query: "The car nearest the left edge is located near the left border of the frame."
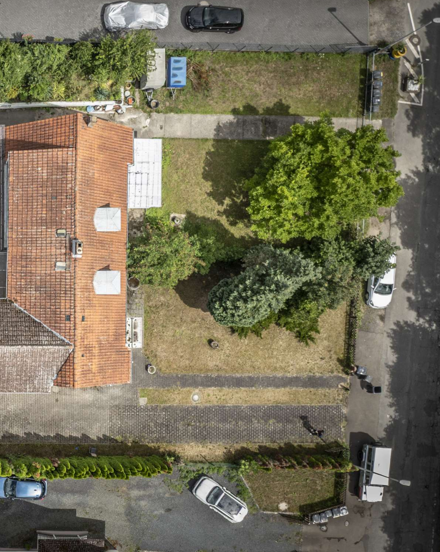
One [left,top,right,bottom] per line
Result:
[0,473,47,503]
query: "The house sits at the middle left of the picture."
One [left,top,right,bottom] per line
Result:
[0,112,161,394]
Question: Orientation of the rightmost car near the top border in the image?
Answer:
from side to side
